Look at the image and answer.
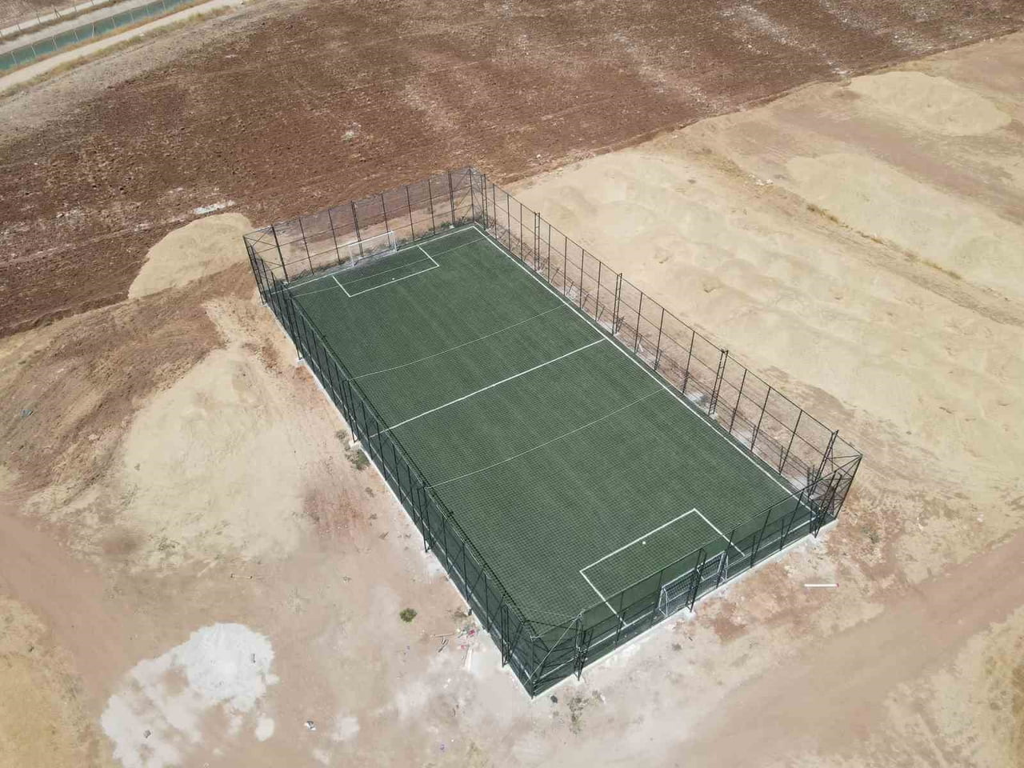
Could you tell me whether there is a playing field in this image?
Yes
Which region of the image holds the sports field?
center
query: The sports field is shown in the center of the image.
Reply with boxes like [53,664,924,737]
[266,222,833,696]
